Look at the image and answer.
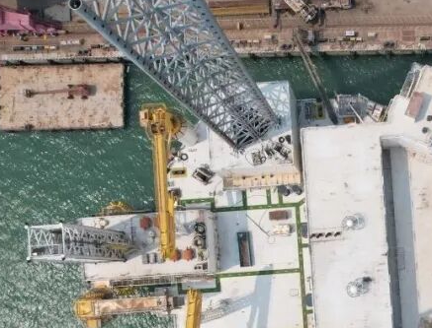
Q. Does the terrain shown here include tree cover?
No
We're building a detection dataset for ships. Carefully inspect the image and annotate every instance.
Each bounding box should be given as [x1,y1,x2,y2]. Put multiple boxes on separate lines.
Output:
[0,61,128,132]
[23,0,432,328]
